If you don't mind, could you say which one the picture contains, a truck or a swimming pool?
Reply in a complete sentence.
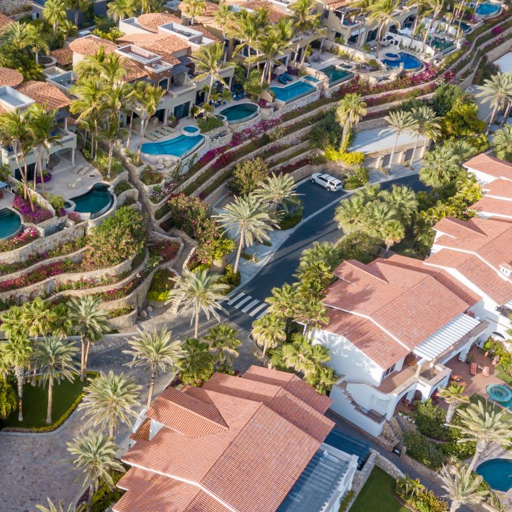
The one in the frame is a swimming pool.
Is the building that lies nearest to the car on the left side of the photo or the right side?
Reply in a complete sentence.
It is on the right.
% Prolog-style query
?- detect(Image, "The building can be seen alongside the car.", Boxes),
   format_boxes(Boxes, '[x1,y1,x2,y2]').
[348,126,427,173]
